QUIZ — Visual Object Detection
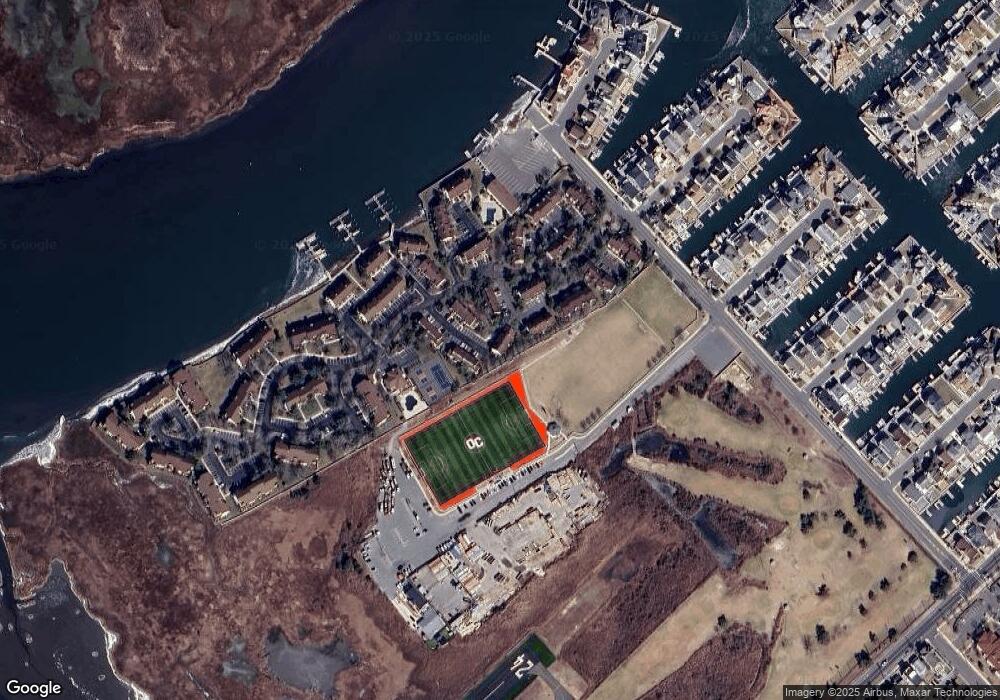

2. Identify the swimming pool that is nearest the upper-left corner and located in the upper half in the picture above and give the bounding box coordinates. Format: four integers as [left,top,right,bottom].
[480,197,507,228]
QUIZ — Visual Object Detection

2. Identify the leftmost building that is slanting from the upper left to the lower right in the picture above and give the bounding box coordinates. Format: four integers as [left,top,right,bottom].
[104,410,147,452]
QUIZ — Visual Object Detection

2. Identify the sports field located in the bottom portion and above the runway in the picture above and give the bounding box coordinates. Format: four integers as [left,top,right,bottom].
[400,372,549,513]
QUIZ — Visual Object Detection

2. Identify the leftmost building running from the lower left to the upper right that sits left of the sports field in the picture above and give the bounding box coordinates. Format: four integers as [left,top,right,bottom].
[131,381,177,419]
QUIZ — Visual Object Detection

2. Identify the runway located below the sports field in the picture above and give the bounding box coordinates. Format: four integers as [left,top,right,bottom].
[458,630,557,700]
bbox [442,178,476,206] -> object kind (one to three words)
building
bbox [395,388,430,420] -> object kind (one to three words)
swimming pool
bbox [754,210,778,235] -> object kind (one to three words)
house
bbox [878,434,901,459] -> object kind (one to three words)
house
